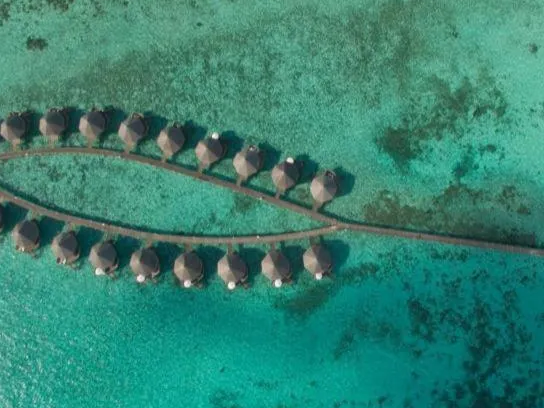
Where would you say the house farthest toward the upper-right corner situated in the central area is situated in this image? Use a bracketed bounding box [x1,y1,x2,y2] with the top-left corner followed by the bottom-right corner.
[309,167,340,202]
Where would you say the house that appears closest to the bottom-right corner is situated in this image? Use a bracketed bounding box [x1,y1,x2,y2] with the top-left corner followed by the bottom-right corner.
[303,245,333,278]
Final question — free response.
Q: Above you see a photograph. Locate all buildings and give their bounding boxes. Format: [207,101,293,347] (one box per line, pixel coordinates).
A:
[119,111,151,144]
[219,255,249,289]
[157,121,189,155]
[271,155,301,190]
[303,245,333,278]
[40,103,72,137]
[175,253,205,287]
[14,219,46,255]
[195,132,227,166]
[132,249,163,283]
[53,233,85,269]
[91,243,122,278]
[309,167,340,202]
[262,253,292,286]
[2,107,33,141]
[79,103,111,138]
[233,144,264,178]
